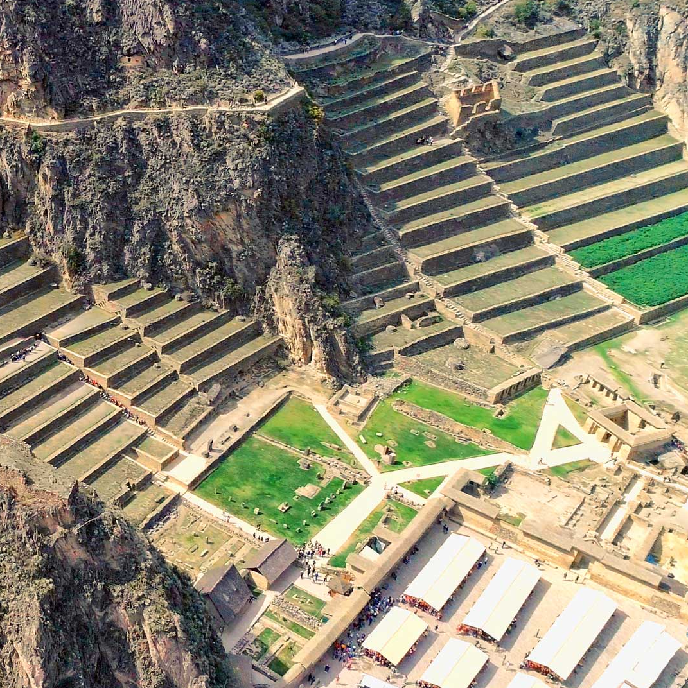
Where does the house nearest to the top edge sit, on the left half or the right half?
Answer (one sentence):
You can find the house nearest to the top edge on the right side of the picture.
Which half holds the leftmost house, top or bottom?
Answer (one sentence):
The leftmost house sits in the bottom half of the picture.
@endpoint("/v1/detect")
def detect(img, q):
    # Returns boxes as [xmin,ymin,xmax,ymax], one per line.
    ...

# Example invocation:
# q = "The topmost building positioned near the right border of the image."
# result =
[582,401,678,464]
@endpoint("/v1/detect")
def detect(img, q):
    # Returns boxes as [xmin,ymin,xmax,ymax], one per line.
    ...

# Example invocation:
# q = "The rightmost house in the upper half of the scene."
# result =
[448,92,502,136]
